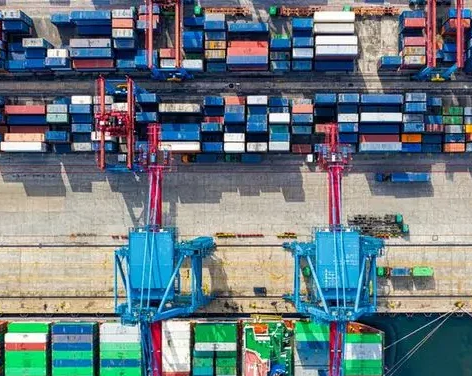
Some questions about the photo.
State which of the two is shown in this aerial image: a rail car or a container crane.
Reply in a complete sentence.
Visible in the photo is a container crane.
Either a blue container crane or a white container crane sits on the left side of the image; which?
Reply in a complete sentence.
Visible on the left side of the image is a blue container crane.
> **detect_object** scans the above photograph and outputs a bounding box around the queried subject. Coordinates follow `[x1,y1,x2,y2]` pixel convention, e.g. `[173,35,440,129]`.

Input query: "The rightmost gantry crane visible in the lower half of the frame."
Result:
[280,121,388,376]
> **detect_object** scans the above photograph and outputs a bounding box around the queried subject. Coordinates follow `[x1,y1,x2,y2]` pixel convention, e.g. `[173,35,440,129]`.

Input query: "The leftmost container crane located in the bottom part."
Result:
[111,122,218,376]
